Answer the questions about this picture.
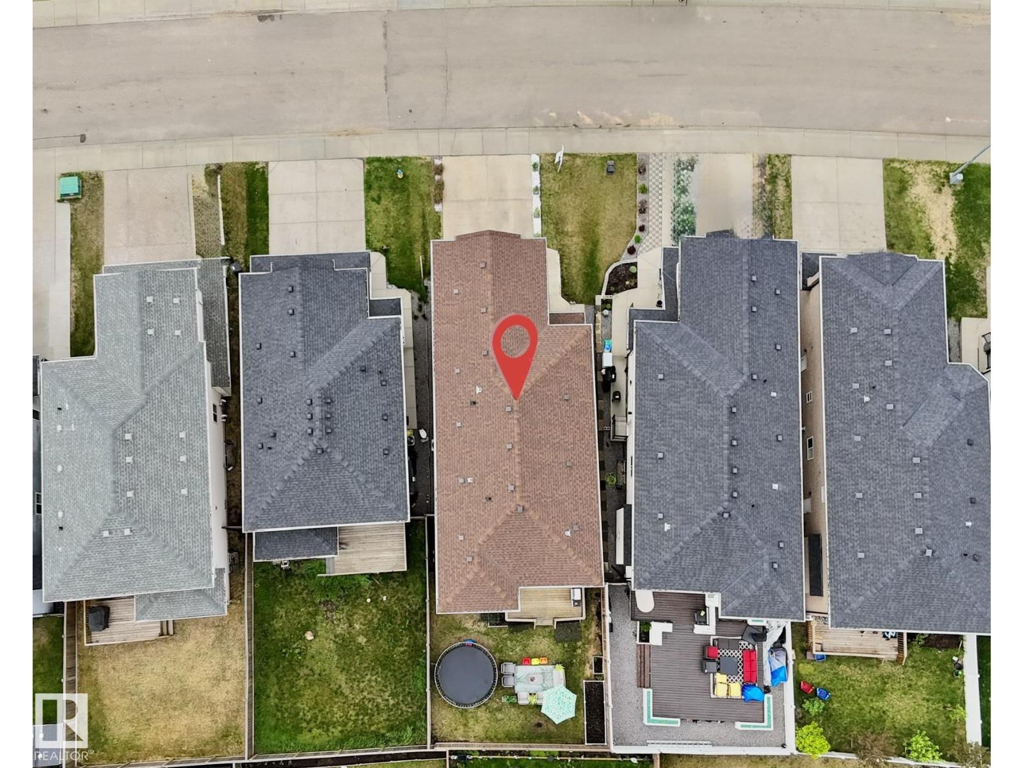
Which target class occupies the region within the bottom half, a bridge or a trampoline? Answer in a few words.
trampoline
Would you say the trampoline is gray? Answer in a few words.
Yes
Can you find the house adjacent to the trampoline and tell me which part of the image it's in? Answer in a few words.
center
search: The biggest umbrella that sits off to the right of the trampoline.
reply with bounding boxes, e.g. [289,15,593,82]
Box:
[540,685,576,724]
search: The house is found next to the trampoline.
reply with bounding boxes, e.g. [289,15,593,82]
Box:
[430,230,605,615]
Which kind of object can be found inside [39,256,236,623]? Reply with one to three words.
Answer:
house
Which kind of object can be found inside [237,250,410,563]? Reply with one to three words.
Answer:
house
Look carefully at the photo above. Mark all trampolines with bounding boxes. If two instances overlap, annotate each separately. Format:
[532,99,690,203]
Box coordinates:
[434,642,498,708]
